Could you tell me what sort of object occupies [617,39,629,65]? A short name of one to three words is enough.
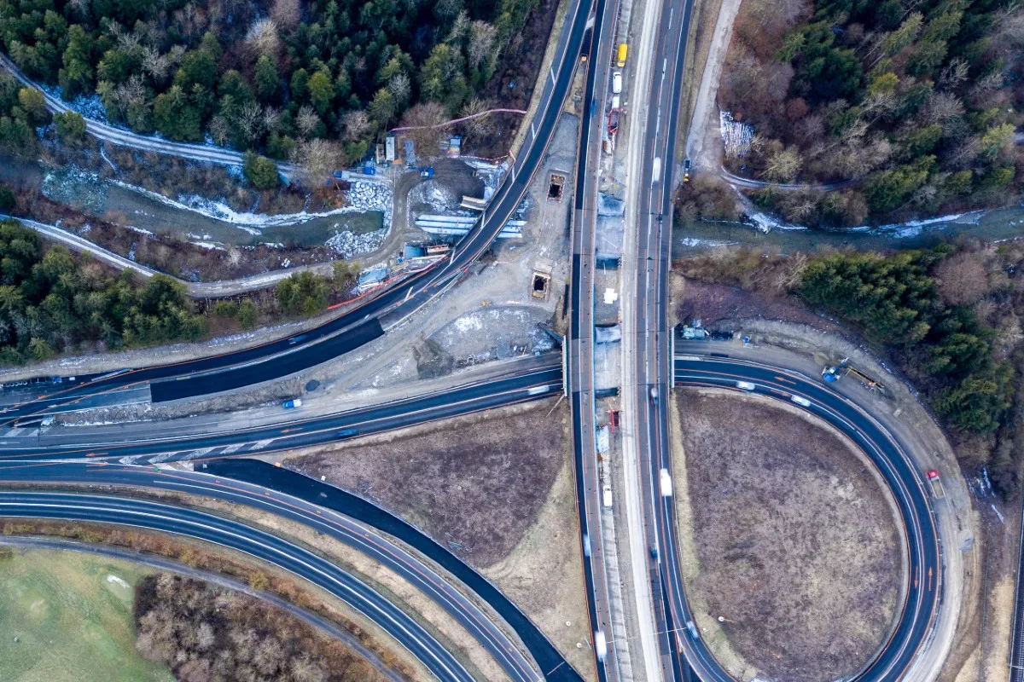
vehicle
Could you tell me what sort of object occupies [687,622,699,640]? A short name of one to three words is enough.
vehicle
